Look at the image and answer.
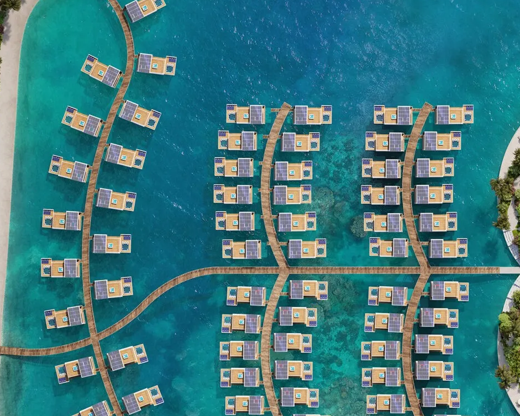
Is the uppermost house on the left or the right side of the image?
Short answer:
left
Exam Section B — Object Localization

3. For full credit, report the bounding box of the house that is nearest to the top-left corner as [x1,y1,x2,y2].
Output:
[81,53,123,88]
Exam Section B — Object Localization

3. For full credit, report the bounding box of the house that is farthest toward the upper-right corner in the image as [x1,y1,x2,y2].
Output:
[435,104,474,124]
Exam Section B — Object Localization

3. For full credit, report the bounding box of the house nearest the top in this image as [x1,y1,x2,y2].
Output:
[124,0,167,22]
